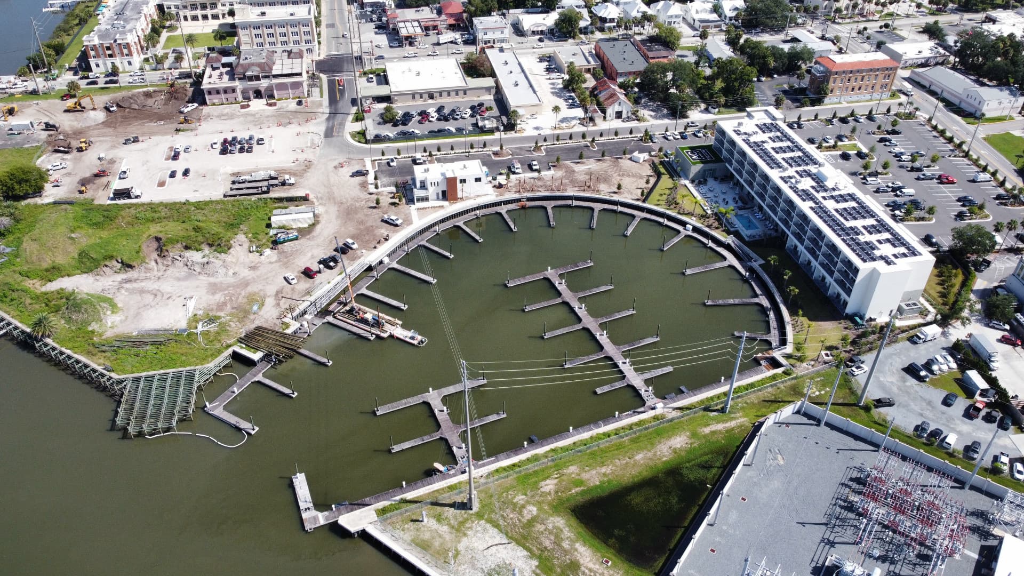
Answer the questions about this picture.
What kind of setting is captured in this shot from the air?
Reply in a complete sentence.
The picture captures a port.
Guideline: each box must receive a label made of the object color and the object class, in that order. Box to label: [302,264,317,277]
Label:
red vehicle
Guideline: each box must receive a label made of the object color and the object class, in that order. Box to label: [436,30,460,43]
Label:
white vehicle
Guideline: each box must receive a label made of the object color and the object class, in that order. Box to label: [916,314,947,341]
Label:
white truck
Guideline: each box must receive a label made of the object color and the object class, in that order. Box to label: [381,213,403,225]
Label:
white vehicle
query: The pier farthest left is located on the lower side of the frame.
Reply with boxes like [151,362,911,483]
[203,360,298,436]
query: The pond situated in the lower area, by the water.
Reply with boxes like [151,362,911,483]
[579,459,736,571]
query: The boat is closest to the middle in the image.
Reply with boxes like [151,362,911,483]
[392,326,427,343]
